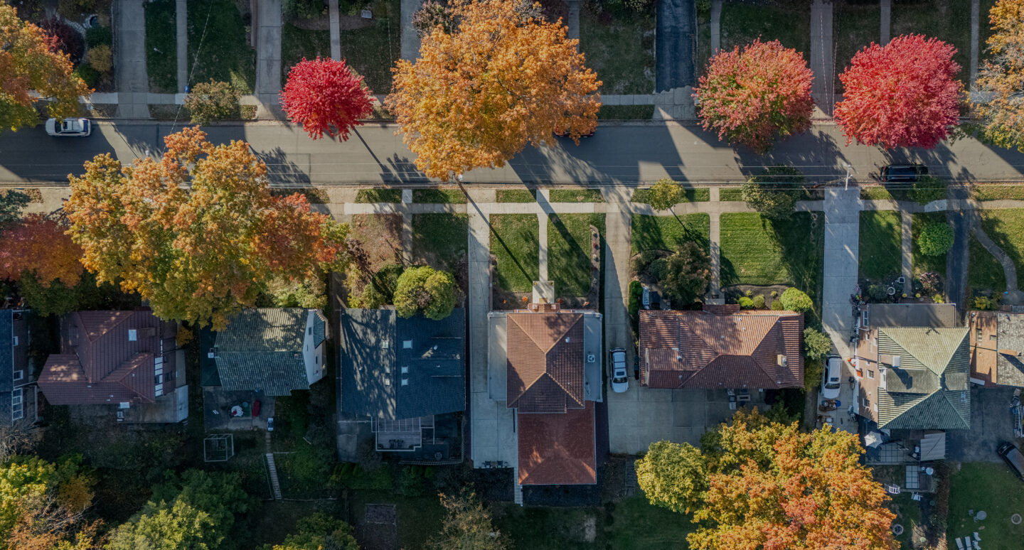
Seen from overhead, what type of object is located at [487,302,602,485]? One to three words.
house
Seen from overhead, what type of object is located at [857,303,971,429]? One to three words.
house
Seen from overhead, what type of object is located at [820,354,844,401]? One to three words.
car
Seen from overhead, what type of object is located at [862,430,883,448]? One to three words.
umbrella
